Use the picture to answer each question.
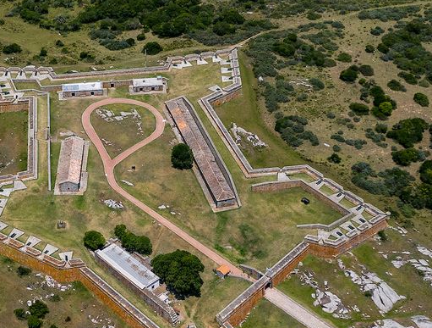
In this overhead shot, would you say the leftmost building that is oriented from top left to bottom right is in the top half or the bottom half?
bottom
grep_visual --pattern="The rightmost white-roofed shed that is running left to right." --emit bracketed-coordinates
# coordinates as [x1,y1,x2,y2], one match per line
[131,77,165,92]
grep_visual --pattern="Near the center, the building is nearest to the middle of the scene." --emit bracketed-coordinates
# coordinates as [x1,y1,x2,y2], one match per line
[165,98,236,207]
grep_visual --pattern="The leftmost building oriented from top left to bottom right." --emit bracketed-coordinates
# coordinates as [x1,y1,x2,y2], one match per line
[96,243,157,290]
